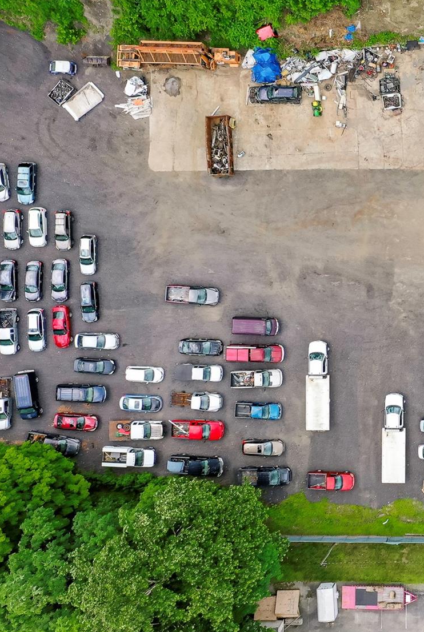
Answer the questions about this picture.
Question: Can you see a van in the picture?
Yes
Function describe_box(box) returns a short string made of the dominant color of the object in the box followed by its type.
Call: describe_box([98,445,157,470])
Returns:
white truck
